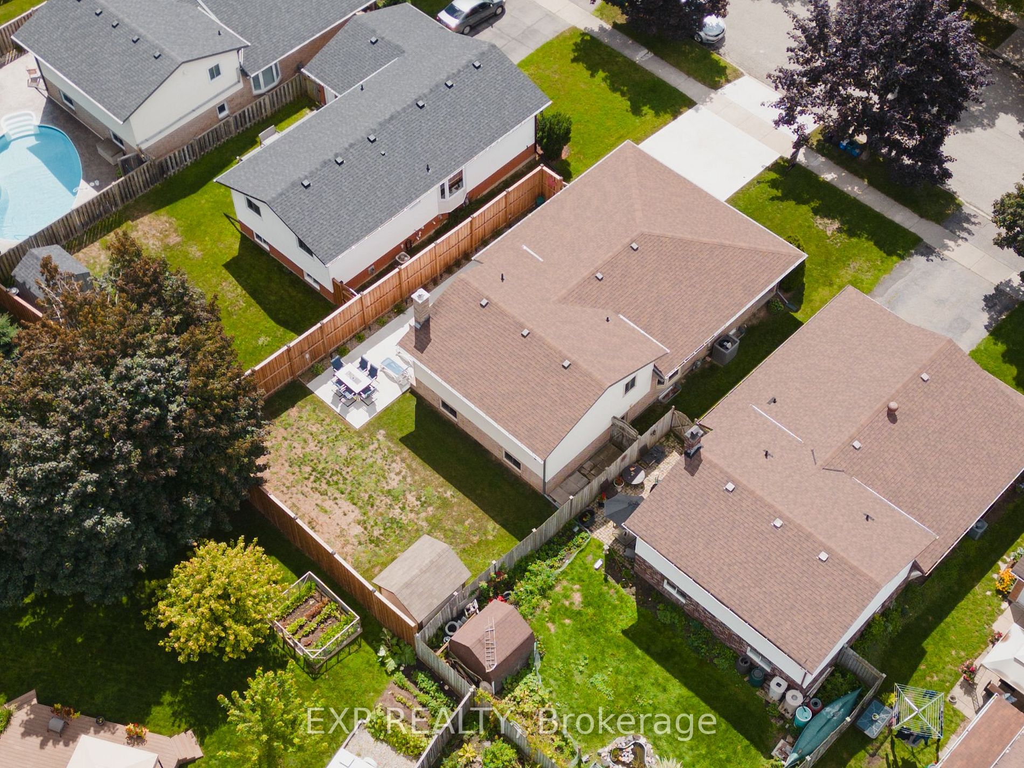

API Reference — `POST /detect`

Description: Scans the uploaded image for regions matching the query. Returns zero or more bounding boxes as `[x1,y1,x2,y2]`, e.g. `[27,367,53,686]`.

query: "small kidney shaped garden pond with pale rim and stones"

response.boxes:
[592,726,661,768]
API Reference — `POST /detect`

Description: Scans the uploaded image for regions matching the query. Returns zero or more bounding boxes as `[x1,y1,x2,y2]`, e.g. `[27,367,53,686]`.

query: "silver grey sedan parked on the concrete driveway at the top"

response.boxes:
[435,0,503,32]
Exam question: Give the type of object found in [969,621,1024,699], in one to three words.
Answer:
gazebo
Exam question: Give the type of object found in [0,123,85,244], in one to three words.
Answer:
swimming pool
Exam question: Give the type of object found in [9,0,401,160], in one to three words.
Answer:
house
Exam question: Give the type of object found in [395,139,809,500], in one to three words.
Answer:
house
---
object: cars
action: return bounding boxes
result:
[681,9,724,40]
[435,0,503,32]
